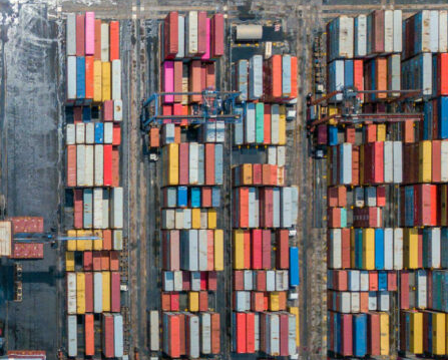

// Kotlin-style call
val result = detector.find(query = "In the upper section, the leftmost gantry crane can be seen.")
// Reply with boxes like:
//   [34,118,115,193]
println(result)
[145,93,244,137]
